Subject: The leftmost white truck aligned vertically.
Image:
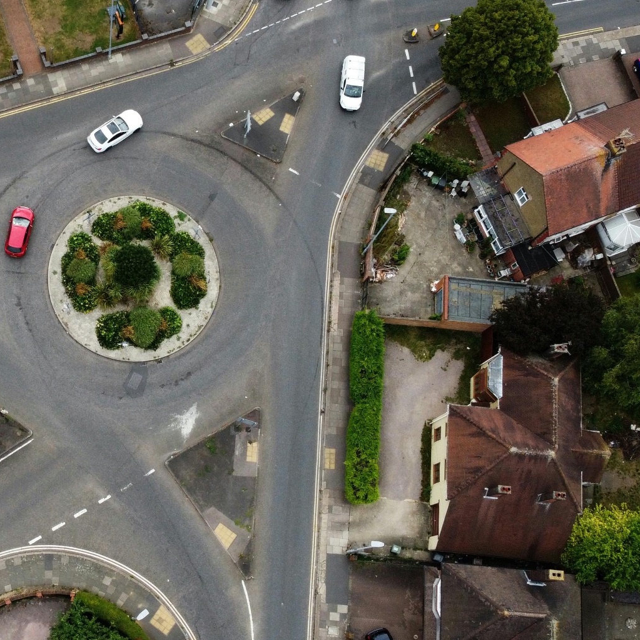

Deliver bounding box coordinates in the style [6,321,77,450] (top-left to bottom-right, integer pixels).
[340,46,369,109]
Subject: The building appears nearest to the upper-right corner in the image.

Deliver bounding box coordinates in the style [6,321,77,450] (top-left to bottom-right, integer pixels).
[458,98,640,282]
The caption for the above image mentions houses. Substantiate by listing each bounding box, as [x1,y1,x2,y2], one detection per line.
[415,563,588,640]
[458,98,640,282]
[428,340,608,564]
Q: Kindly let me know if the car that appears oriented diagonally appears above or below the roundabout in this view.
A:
above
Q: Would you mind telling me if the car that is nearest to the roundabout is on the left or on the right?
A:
left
